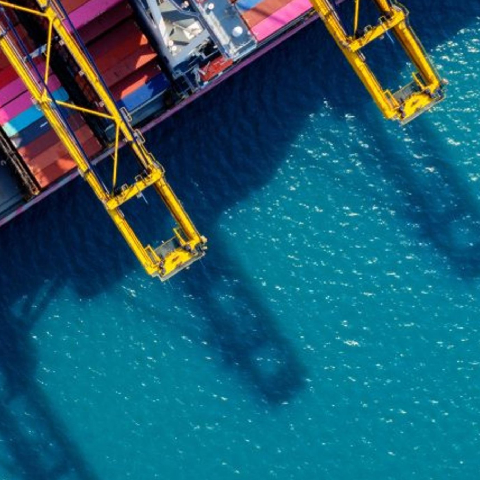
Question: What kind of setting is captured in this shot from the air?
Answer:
port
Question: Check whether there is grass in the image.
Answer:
No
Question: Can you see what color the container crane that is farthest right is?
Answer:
yellow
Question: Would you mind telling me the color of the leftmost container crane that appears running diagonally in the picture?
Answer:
yellow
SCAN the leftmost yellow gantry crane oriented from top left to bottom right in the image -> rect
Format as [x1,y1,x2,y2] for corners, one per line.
[0,0,207,286]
